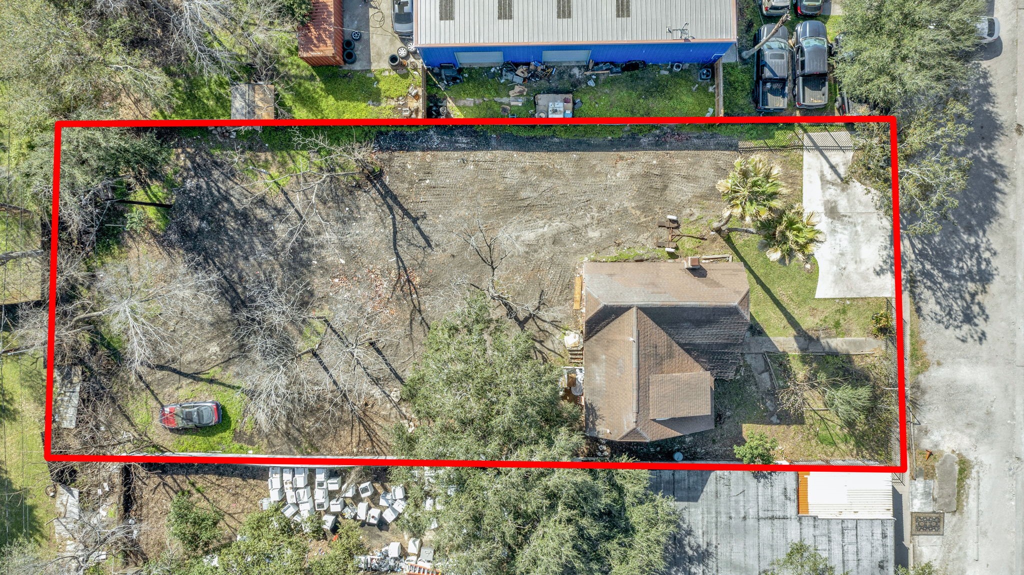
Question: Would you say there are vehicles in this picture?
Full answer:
Yes, there is a vehicle in the image.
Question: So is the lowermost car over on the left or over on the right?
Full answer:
The lowermost car sits on the left side.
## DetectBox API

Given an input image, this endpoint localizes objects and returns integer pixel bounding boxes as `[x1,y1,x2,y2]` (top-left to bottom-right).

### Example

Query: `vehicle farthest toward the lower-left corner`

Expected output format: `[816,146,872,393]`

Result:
[160,398,225,430]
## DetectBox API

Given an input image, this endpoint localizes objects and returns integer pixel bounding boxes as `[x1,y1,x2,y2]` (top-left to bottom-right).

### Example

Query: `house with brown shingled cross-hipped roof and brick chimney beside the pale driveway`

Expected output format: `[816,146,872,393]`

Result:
[581,258,752,442]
